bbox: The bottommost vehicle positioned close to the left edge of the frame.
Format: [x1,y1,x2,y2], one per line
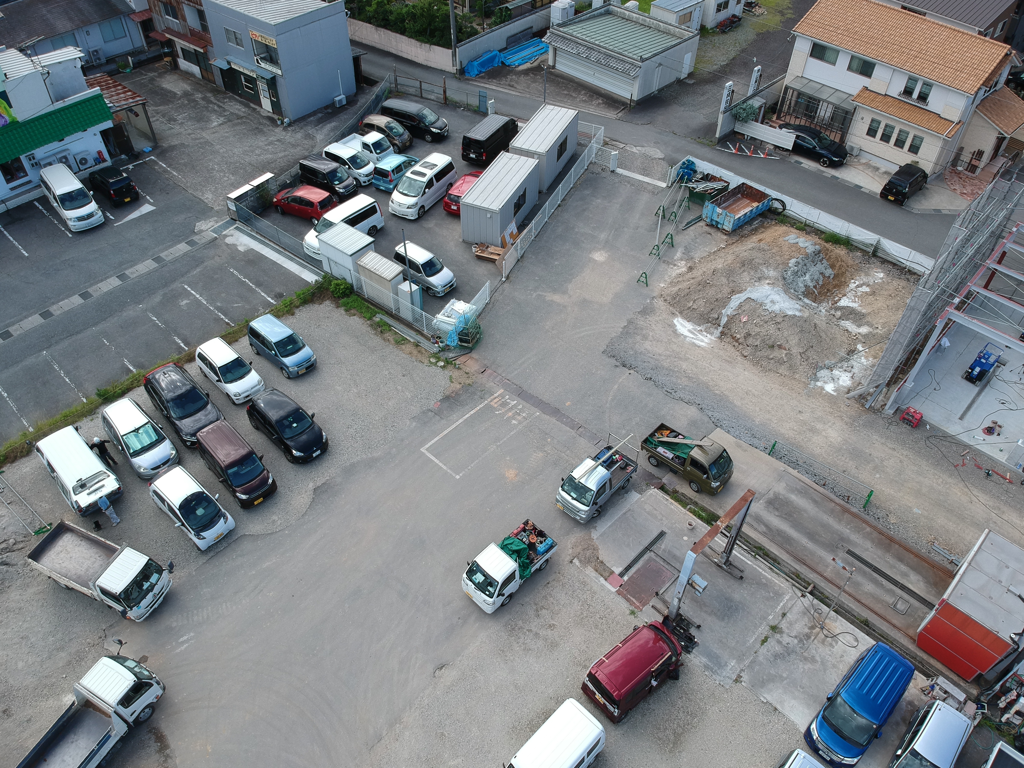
[6,644,168,768]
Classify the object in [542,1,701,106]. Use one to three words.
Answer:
building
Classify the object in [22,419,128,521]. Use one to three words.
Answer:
van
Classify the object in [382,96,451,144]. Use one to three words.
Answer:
car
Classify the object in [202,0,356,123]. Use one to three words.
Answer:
building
